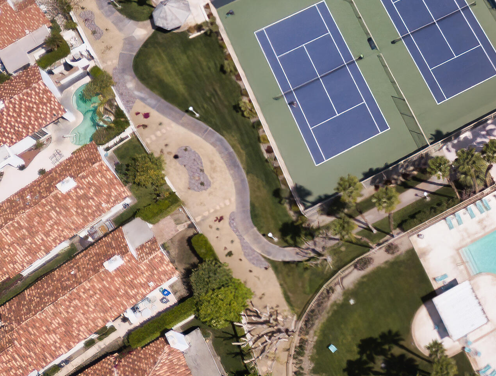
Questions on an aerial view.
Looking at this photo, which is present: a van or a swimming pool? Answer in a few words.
swimming pool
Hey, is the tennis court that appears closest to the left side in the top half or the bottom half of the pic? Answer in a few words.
top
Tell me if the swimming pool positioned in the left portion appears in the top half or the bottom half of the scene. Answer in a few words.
top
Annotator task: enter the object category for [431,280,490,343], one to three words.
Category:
building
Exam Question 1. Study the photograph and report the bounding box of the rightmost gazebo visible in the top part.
[150,0,198,39]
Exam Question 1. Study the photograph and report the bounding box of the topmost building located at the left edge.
[0,0,61,76]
